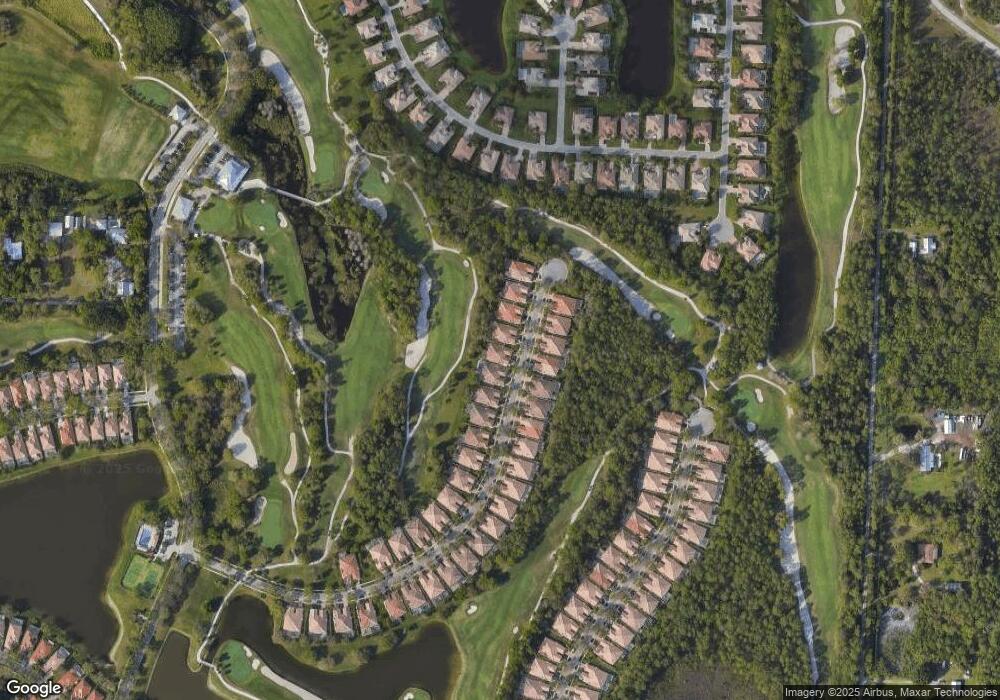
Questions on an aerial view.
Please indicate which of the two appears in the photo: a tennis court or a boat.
tennis court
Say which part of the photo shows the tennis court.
bottom left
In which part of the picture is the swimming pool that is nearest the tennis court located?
bottom left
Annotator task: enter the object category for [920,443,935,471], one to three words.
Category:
barn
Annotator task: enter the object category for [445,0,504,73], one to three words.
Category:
pond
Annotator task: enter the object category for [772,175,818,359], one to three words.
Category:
pond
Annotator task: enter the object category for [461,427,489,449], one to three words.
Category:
house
